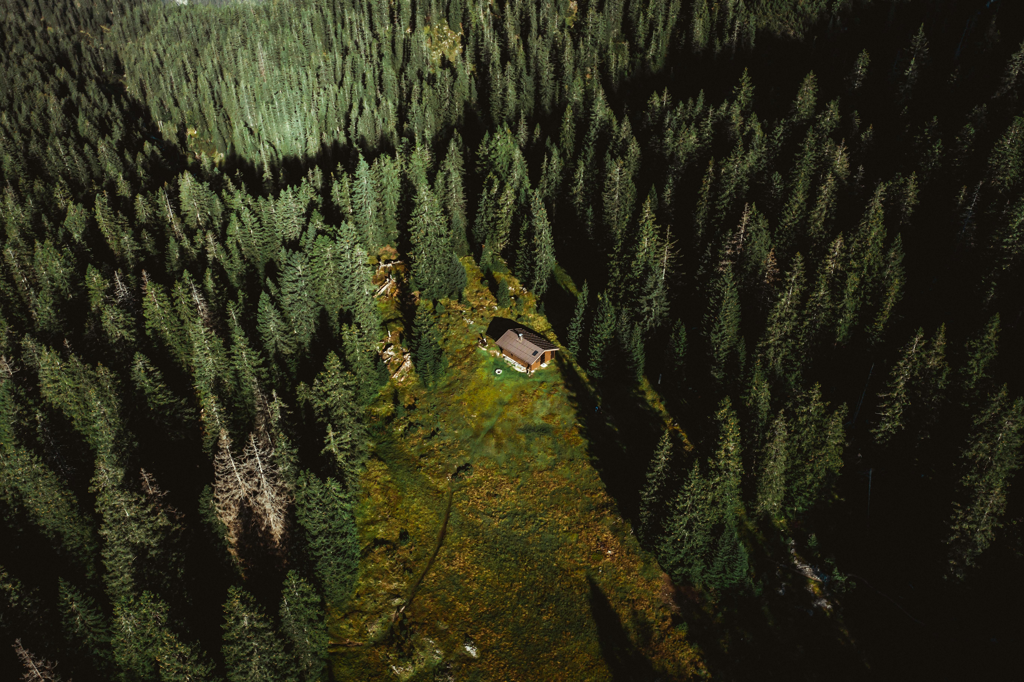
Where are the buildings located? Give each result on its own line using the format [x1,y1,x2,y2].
[494,328,560,374]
